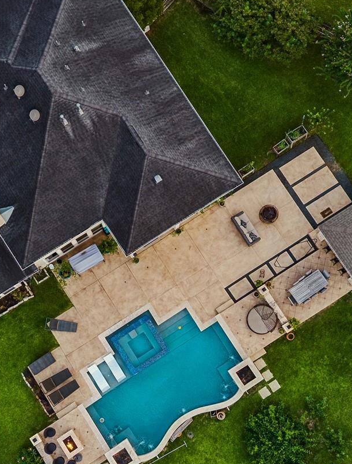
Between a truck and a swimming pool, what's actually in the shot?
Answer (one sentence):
Visible in the photo is a swimming pool.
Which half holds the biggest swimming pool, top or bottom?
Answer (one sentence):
You can find the biggest swimming pool in the bottom half.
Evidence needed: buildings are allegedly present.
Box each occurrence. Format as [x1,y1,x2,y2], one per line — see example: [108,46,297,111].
[313,204,352,288]
[0,0,243,303]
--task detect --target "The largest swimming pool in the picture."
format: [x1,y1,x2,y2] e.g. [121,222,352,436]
[78,301,248,461]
